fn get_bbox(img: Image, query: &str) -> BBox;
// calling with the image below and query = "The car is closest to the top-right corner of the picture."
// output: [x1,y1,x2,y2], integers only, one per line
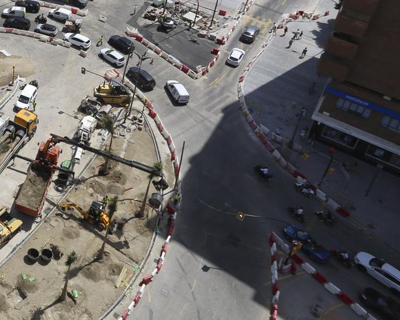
[242,24,261,41]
